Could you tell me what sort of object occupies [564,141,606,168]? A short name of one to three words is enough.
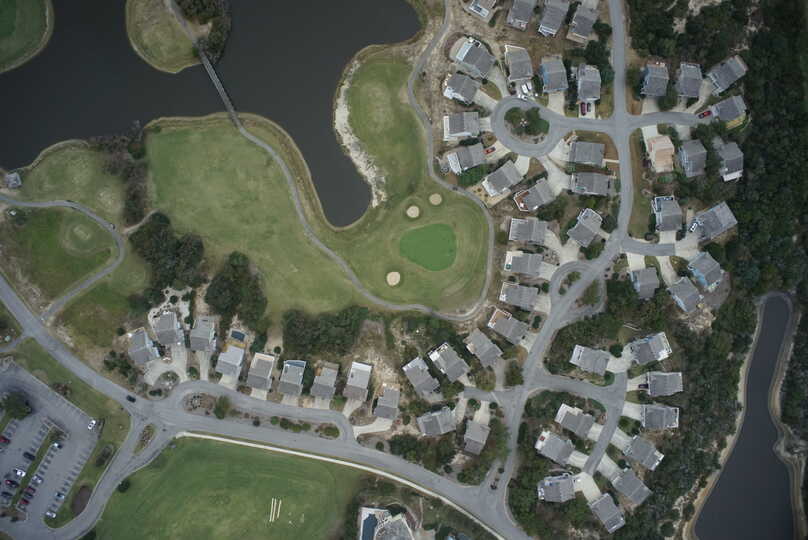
house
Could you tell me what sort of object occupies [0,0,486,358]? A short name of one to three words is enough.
golf course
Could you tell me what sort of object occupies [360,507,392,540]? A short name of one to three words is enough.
swimming pool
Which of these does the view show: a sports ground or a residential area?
residential area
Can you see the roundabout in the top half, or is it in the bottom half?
top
